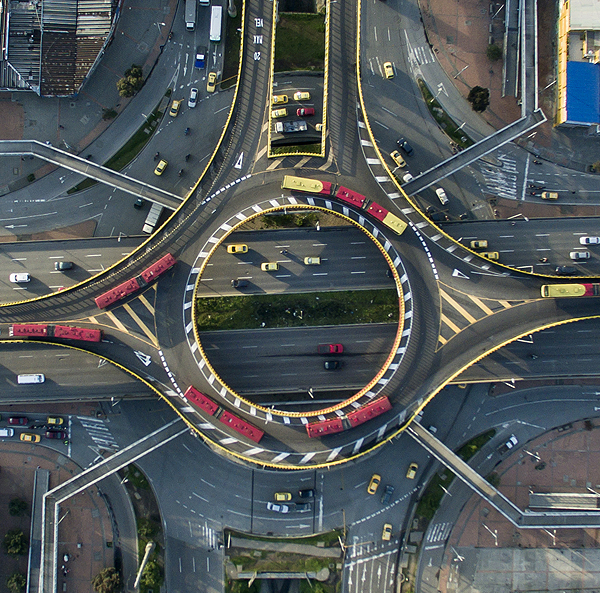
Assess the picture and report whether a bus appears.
Yes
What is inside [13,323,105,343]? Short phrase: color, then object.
red bus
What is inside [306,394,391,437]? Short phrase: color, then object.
red bus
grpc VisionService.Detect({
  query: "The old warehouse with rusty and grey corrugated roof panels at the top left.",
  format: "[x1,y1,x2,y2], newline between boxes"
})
[0,0,118,97]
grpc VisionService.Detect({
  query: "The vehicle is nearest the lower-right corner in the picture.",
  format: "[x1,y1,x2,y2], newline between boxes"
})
[497,434,519,453]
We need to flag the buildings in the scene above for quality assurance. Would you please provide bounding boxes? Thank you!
[0,0,118,97]
[557,0,600,129]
